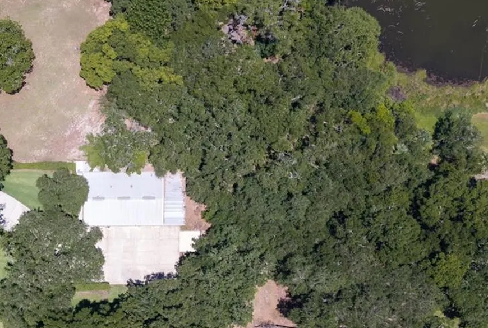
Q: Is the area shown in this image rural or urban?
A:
rural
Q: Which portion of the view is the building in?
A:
left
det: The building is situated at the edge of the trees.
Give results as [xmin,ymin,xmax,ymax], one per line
[82,170,184,226]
